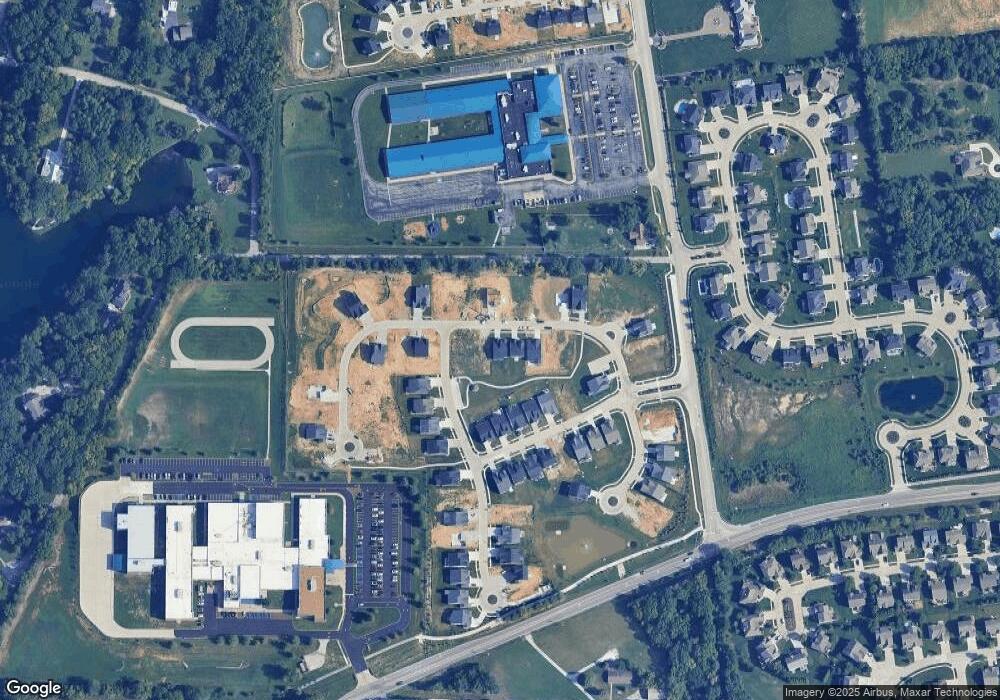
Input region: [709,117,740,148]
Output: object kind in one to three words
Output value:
roundabout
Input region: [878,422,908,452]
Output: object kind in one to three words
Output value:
roundabout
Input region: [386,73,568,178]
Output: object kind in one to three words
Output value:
building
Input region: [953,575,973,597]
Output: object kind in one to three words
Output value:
house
